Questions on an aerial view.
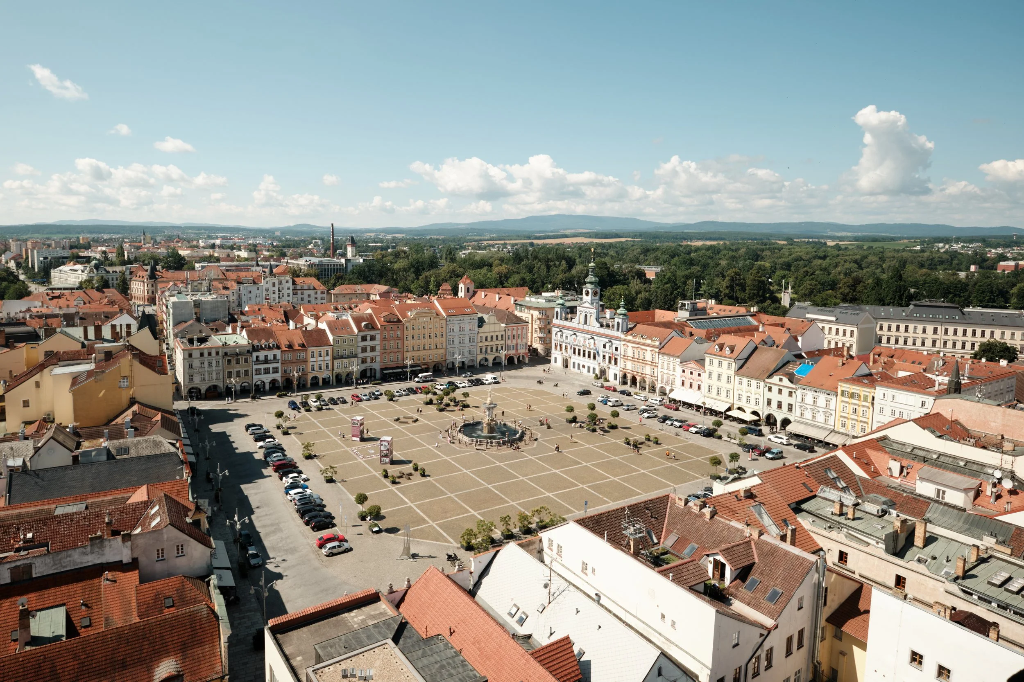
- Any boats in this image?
No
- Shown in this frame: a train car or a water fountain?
water fountain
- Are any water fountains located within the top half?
No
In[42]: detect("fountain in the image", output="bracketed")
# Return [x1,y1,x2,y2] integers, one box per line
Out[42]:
[455,387,523,442]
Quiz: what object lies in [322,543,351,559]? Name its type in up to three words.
car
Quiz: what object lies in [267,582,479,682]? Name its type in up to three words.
house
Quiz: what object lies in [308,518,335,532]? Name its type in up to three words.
car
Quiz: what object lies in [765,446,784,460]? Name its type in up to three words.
vehicle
